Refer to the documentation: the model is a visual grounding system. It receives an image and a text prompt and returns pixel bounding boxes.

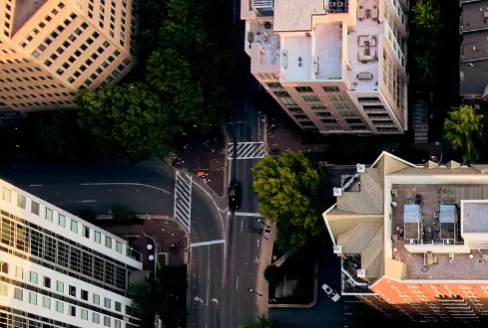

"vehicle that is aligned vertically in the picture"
[228,182,240,208]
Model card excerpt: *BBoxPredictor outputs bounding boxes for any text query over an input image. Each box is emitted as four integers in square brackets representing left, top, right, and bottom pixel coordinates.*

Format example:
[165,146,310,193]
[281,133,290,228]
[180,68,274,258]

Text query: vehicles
[228,182,240,208]
[321,284,342,303]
